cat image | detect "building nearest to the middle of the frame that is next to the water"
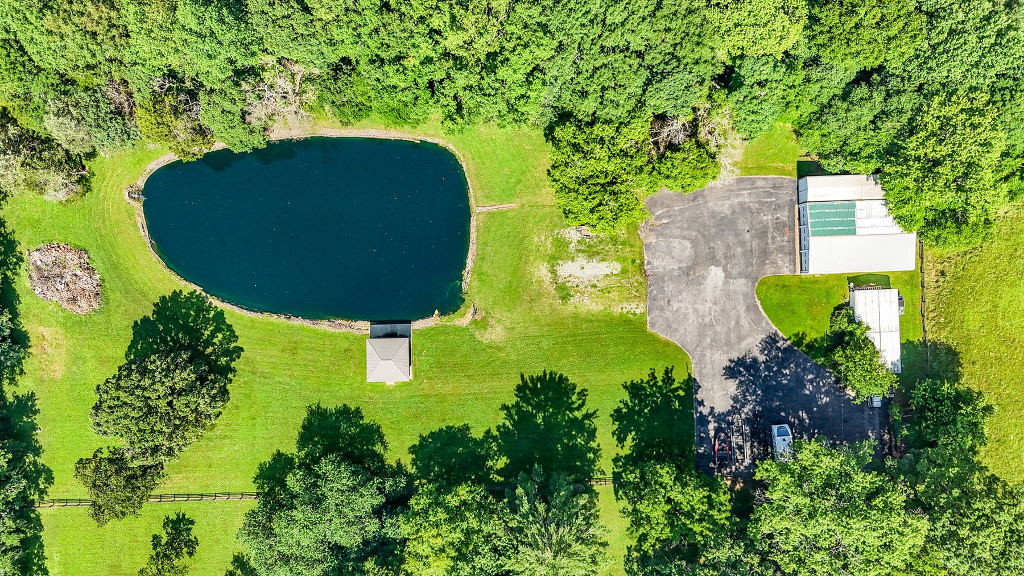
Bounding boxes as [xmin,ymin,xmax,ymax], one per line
[366,320,413,385]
